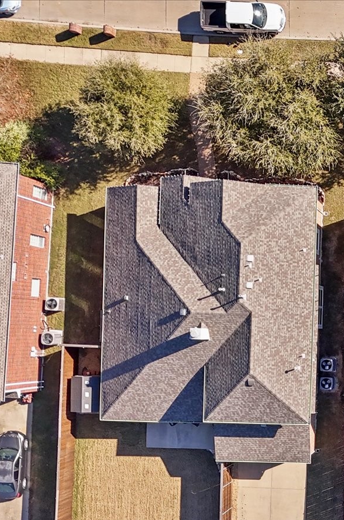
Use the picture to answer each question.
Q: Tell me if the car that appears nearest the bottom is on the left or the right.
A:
left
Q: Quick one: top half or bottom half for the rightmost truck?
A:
top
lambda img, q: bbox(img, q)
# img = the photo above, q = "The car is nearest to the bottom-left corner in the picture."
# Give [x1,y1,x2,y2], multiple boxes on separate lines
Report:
[0,433,31,500]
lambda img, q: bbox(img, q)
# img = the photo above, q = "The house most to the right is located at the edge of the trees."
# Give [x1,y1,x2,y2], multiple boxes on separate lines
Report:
[100,175,326,462]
